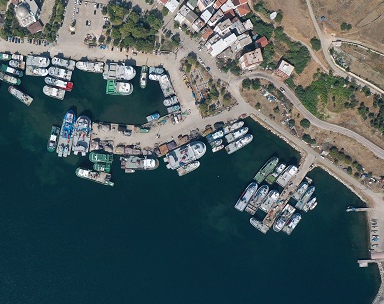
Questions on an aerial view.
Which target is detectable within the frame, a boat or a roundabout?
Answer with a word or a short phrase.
boat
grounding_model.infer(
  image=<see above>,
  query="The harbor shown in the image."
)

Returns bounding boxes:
[0,41,253,158]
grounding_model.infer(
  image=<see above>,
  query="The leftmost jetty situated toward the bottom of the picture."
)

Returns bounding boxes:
[261,164,312,230]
